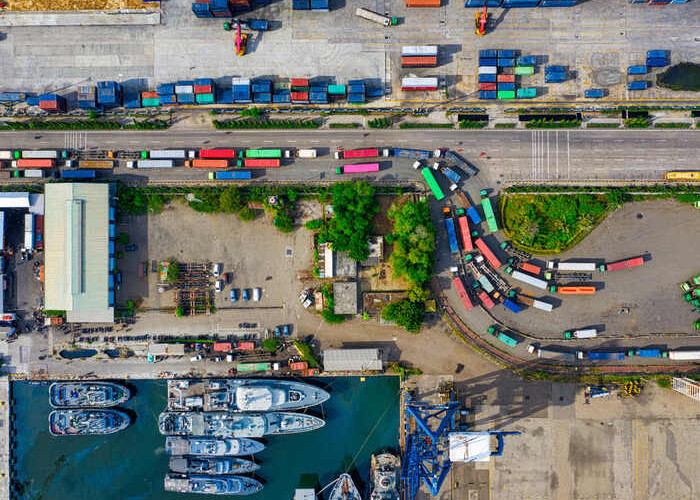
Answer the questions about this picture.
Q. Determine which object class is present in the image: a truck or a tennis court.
truck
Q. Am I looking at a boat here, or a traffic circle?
boat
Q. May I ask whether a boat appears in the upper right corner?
No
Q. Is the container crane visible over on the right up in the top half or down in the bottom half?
bottom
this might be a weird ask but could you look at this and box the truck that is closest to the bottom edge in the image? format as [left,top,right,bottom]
[582,386,613,407]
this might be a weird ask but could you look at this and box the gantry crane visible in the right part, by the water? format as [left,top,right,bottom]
[396,383,524,500]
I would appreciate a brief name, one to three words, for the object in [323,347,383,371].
building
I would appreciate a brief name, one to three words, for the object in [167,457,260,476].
boat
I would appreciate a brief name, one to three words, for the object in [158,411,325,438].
ship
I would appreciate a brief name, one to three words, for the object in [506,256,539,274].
vehicle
